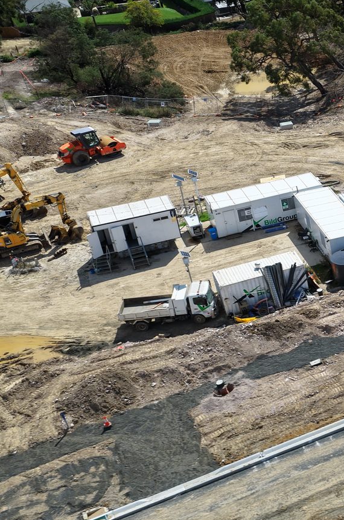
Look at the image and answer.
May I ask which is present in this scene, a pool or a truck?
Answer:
truck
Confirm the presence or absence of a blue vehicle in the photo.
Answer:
No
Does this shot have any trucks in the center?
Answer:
Yes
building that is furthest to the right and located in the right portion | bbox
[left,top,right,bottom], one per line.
[293,186,344,259]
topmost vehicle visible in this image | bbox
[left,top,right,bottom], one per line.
[55,126,127,165]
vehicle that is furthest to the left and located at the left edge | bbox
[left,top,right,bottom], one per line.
[0,163,33,201]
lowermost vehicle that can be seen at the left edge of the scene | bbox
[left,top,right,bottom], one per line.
[0,193,81,259]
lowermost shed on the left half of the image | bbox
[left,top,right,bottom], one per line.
[87,196,182,258]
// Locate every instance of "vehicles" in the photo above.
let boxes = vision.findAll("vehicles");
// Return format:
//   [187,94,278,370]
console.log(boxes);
[55,126,127,165]
[0,163,33,201]
[117,279,221,330]
[0,193,81,259]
